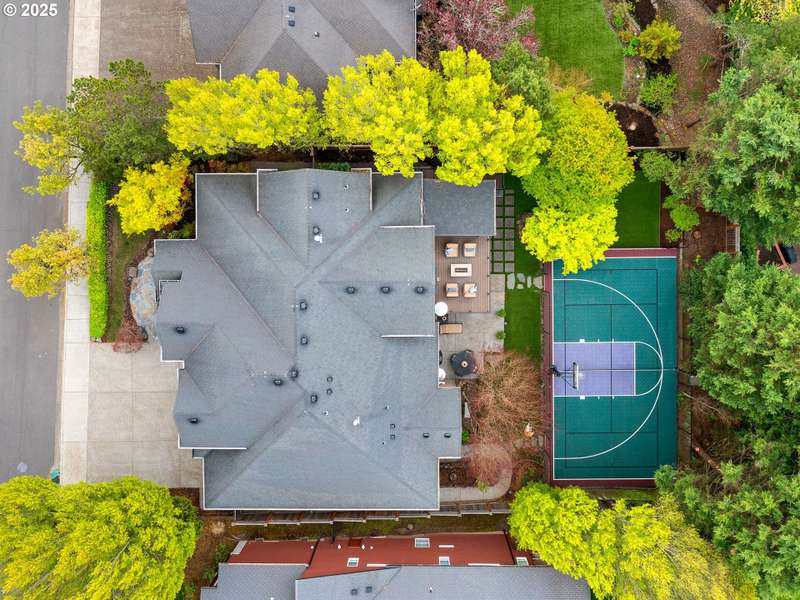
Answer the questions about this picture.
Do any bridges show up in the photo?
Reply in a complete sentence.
No, no bridge can be seen from above.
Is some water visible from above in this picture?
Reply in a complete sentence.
No, no water is visible.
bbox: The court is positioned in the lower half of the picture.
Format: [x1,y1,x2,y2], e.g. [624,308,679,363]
[544,248,677,488]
